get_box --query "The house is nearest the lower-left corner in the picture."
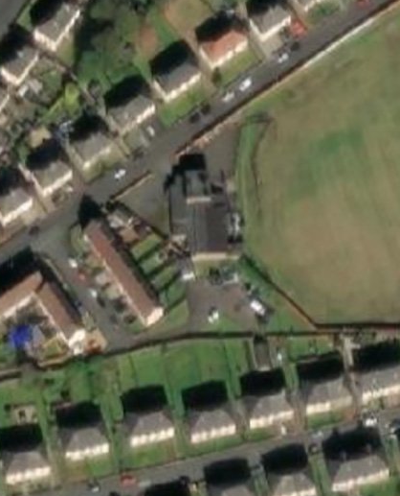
[0,438,51,484]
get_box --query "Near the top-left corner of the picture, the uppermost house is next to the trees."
[30,0,78,51]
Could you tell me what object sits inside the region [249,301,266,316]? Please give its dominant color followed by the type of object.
white vehicle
